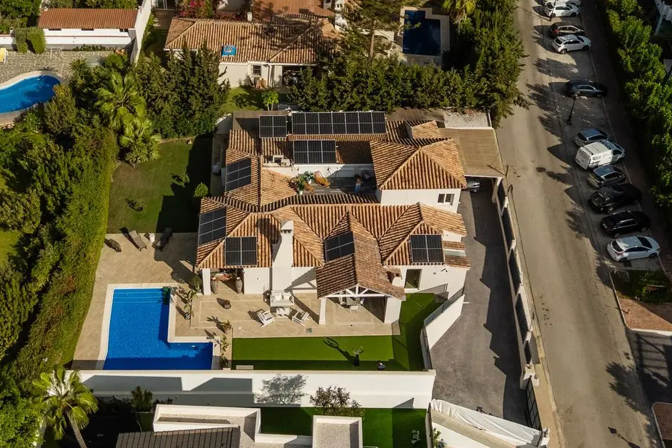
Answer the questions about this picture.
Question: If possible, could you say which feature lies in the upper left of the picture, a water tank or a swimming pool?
swimming pool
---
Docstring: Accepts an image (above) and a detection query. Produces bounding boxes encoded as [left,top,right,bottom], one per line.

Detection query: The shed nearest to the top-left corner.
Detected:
[39,8,144,45]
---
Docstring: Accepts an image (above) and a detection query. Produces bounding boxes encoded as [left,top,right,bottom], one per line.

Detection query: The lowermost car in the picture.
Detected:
[605,236,665,263]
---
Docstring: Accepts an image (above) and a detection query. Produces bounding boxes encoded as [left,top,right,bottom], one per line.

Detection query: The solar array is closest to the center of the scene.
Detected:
[325,232,355,263]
